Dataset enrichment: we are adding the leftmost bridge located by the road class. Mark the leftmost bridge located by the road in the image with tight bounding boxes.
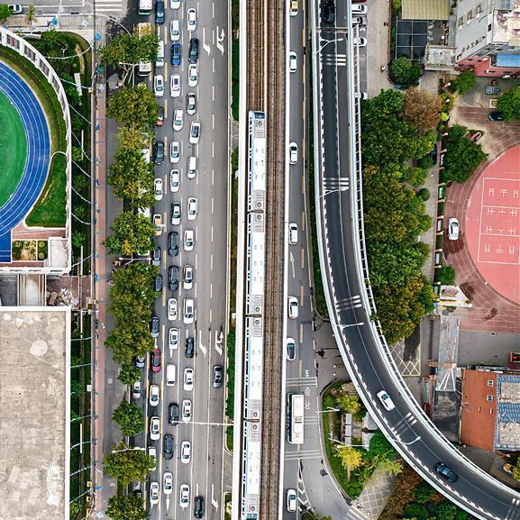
[225,0,290,520]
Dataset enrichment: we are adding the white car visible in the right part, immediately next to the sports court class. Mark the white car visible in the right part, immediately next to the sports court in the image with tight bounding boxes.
[446,218,459,240]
